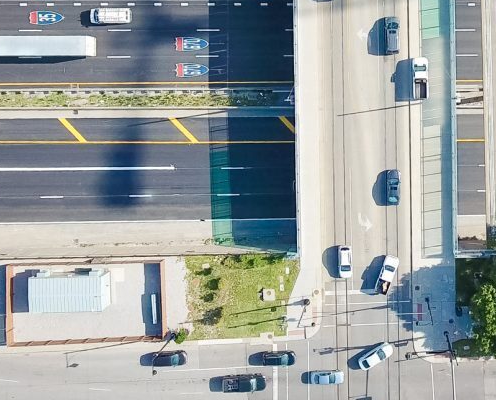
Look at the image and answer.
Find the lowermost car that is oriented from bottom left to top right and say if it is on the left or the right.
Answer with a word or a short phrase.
right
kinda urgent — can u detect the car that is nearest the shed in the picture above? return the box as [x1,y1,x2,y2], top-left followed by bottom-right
[151,349,188,367]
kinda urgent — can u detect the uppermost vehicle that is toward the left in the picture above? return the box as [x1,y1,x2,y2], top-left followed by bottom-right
[91,6,133,25]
